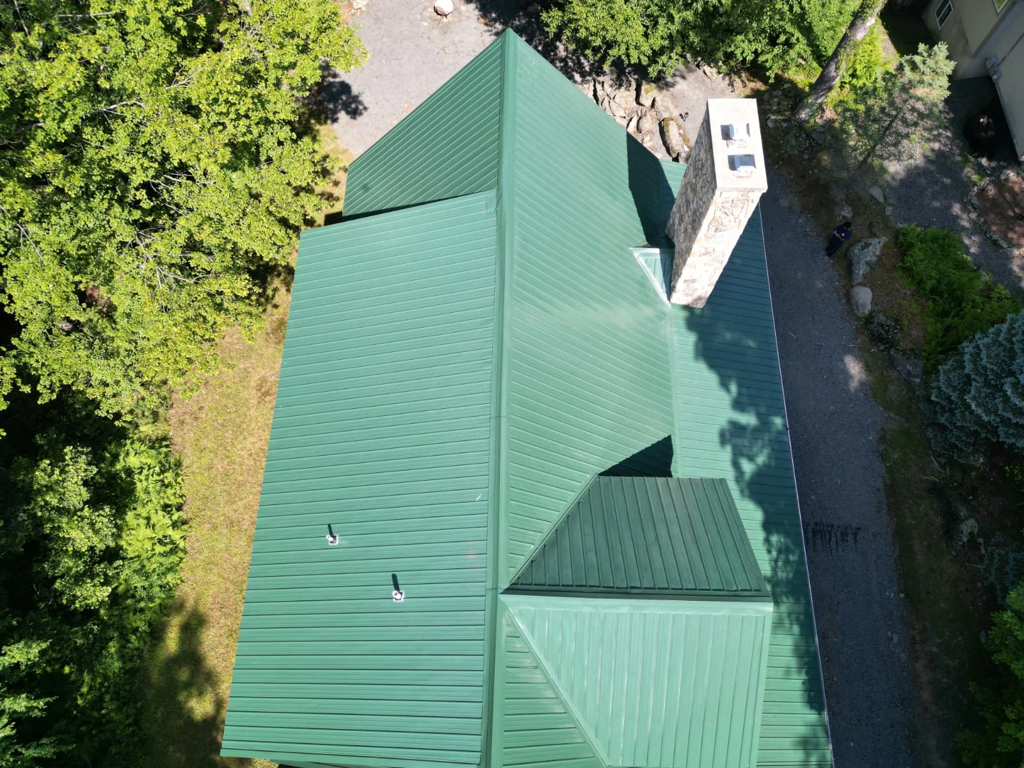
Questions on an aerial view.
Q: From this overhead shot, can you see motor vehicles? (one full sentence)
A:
No, there isn't any motor vehicle down there.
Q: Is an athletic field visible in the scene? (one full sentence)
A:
No, the frame has no athletic field in it.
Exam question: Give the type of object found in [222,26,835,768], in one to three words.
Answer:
house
